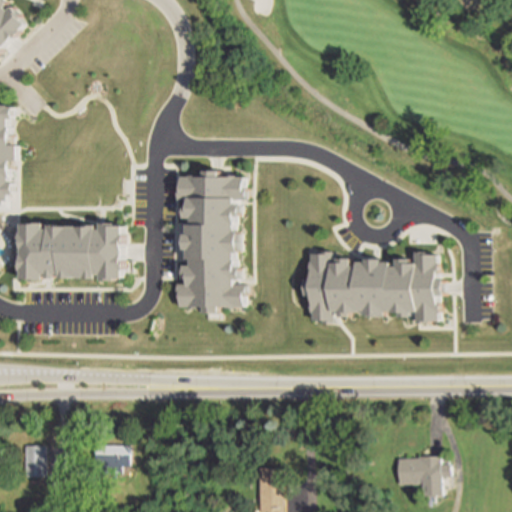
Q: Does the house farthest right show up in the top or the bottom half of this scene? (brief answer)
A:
bottom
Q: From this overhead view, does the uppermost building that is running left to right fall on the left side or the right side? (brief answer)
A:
left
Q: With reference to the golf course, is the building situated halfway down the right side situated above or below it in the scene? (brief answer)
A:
below it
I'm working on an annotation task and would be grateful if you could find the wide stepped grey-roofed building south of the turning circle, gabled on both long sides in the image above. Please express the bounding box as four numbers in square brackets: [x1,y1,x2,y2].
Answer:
[304,251,446,328]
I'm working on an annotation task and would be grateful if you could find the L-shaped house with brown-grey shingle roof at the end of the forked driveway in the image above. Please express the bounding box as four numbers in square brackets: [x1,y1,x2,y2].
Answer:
[396,457,452,506]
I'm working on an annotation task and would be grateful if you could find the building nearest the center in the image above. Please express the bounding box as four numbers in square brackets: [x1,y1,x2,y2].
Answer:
[174,171,252,314]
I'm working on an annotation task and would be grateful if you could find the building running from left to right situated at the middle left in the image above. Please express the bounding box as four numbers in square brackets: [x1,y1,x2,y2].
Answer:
[14,223,136,280]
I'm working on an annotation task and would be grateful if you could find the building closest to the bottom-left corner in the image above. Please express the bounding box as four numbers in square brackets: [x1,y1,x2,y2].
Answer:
[25,446,48,478]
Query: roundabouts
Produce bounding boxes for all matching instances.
[362,198,393,228]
